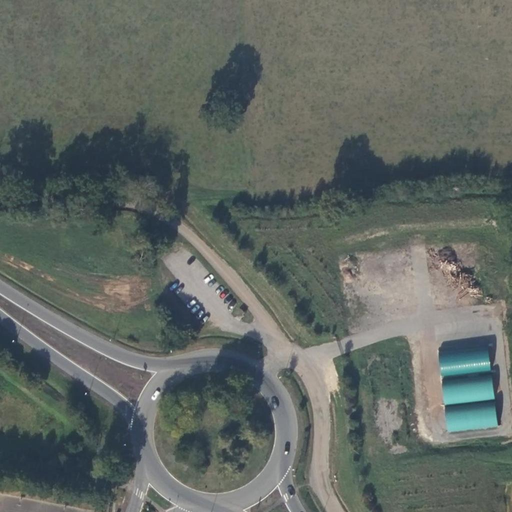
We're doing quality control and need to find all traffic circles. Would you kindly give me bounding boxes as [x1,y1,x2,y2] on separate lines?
[0,294,297,512]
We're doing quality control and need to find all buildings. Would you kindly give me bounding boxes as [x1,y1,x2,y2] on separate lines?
[439,344,491,375]
[445,400,498,432]
[442,371,495,404]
